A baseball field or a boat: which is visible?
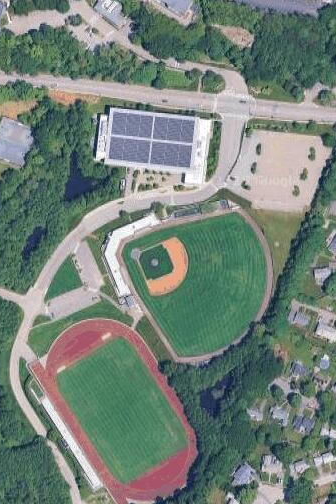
baseball field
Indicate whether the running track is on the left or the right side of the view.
left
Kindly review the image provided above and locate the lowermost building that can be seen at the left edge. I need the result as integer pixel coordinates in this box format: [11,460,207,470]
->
[0,117,34,167]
